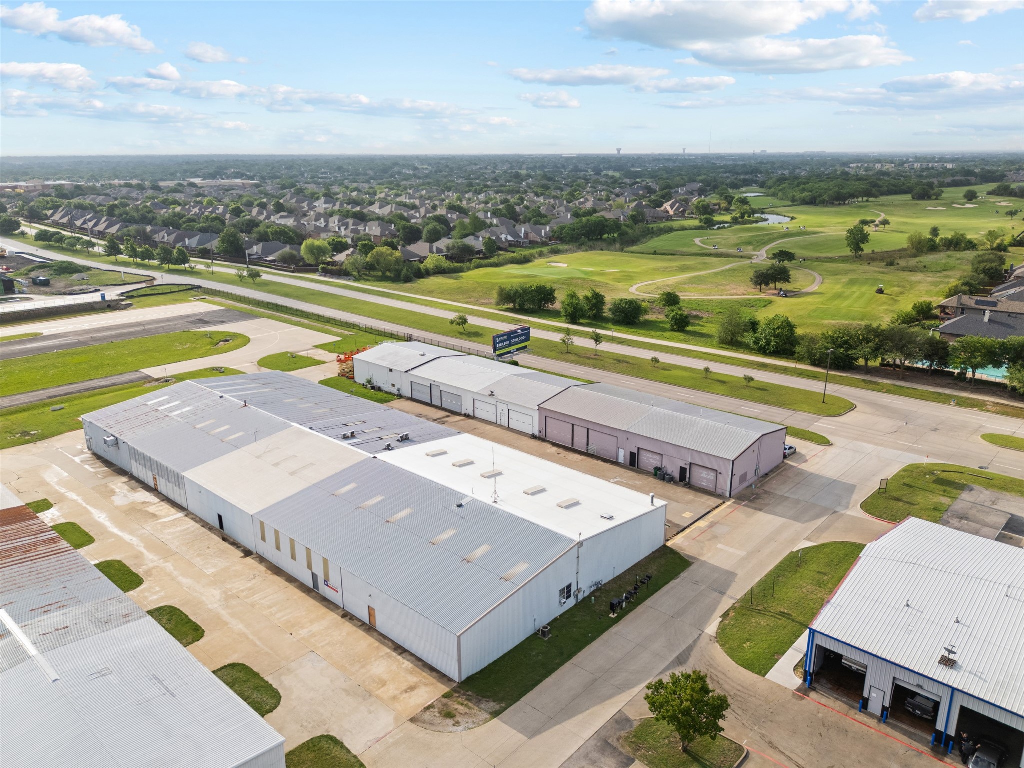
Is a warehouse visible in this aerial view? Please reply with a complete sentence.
Yes, looking at the shot, I can spot a warehouse.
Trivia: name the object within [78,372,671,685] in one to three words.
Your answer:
warehouse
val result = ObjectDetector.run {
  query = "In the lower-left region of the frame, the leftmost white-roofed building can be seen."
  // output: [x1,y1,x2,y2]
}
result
[0,488,288,768]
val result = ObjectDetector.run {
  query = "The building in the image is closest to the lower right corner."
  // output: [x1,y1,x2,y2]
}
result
[800,512,1024,768]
